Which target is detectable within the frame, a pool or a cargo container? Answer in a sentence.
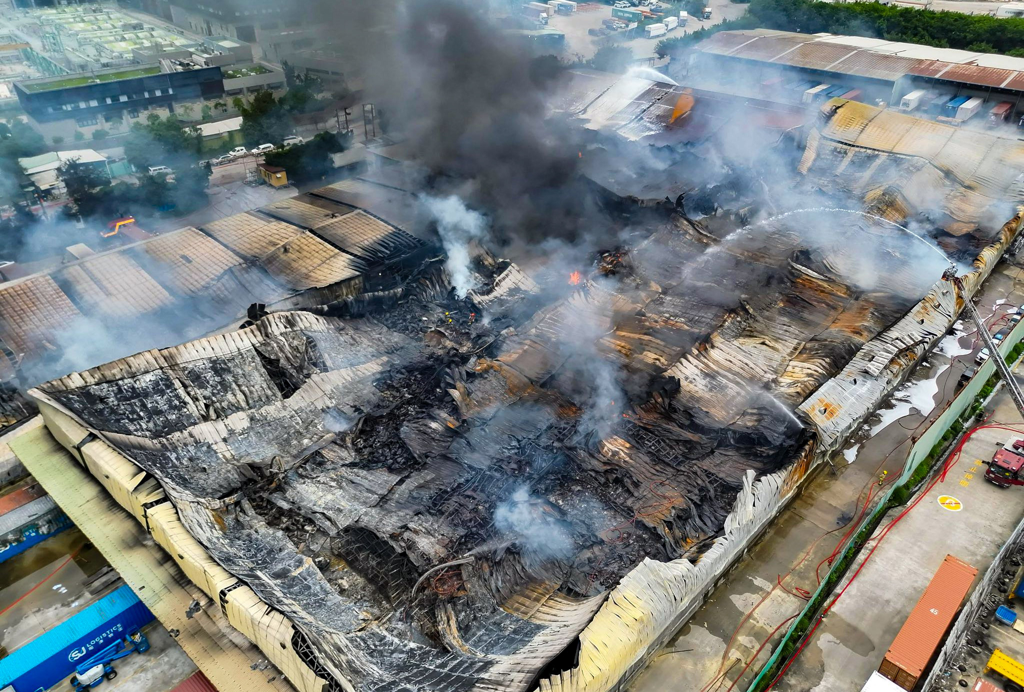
The one in the frame is a cargo container.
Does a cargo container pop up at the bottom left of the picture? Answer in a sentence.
Yes, looking at the bottom left of the picture, one can make out a cargo container.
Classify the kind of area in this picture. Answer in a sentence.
What you see here is an industrial area.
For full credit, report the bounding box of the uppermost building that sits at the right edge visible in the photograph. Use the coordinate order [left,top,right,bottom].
[684,28,1024,125]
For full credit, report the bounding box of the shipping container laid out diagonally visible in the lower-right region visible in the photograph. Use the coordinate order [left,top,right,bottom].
[876,555,979,692]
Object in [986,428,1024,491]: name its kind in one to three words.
truck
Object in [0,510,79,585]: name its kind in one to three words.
shipping container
